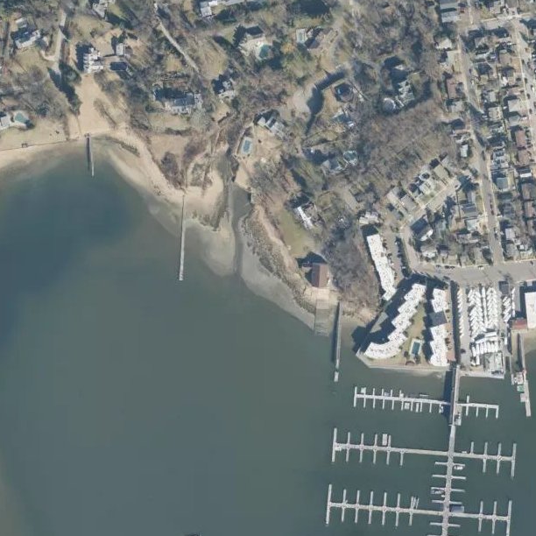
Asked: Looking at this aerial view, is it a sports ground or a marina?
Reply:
marina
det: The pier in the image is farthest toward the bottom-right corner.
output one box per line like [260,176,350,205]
[450,500,511,536]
